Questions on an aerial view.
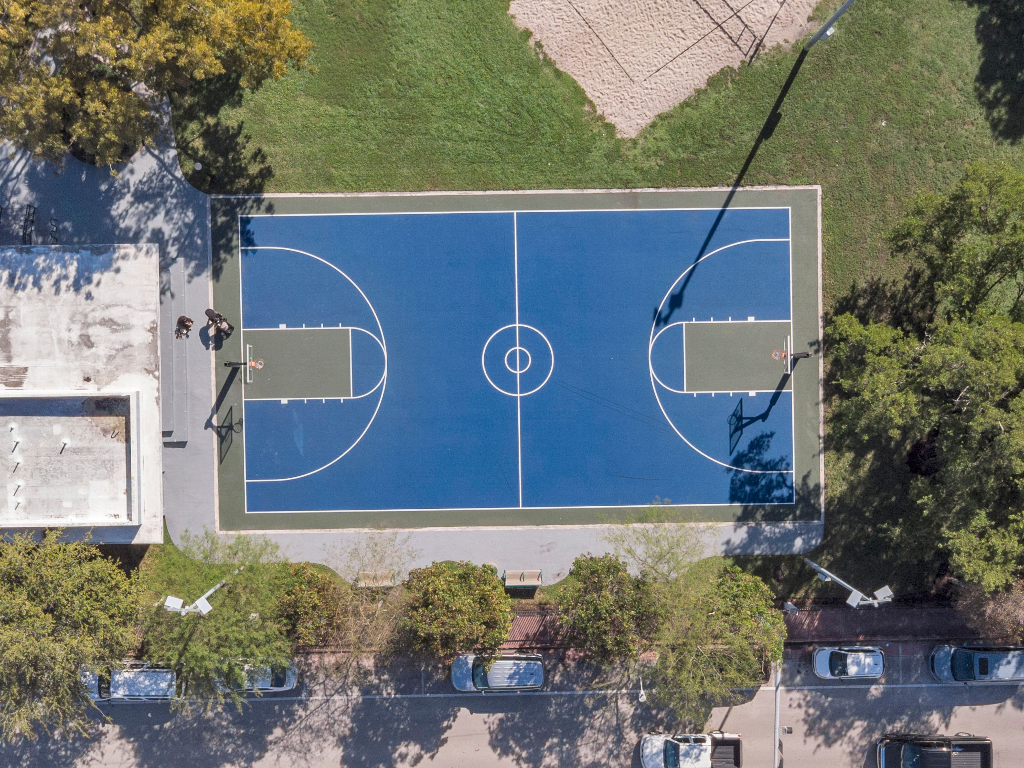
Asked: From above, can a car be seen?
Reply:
Yes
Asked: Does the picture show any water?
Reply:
No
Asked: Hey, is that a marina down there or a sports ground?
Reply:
sports ground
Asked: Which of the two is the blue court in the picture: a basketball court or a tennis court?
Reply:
basketball court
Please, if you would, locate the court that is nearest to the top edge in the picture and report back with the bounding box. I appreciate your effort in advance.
[503,0,817,137]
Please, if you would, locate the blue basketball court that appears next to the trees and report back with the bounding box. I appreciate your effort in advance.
[206,185,825,534]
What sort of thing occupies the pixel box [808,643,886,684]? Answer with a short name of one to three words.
car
